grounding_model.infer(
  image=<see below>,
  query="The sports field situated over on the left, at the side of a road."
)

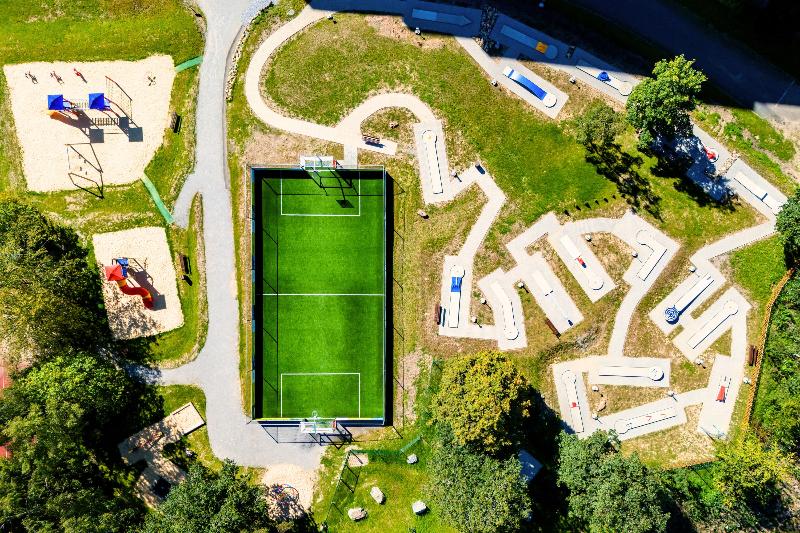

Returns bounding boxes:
[246,163,387,427]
